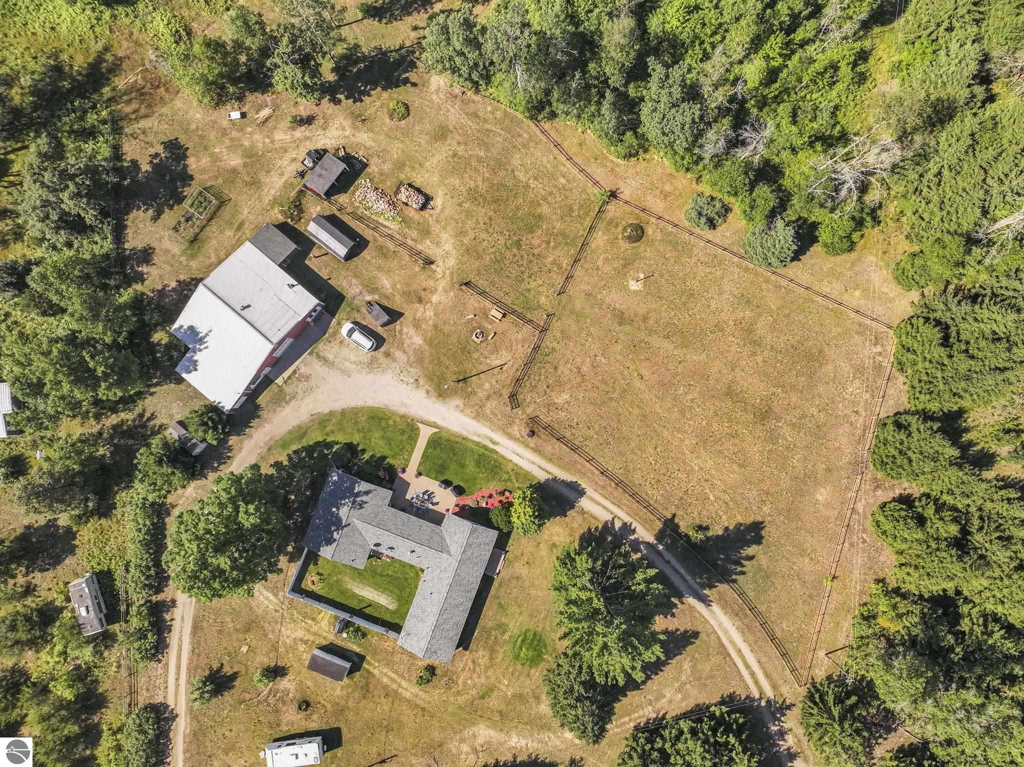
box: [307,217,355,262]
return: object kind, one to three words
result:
shed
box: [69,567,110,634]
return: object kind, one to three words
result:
vehicle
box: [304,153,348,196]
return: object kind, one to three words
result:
shed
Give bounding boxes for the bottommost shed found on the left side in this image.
[307,644,353,682]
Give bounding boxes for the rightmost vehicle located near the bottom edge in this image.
[263,734,324,767]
